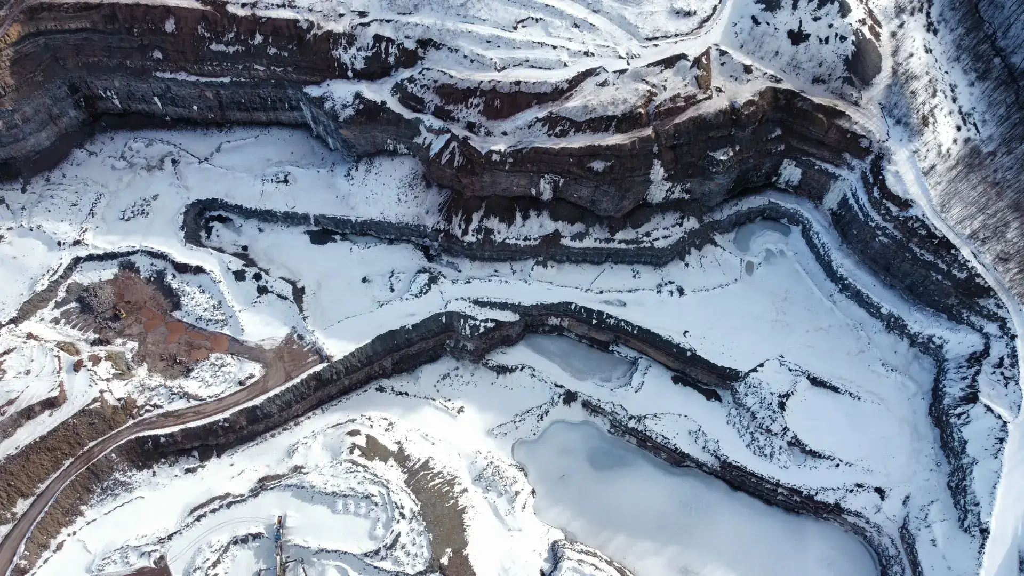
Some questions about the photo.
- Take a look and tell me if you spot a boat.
No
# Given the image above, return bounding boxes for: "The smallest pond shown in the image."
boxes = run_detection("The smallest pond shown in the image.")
[524,334,633,382]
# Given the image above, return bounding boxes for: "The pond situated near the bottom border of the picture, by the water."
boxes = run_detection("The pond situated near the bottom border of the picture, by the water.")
[513,420,880,576]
